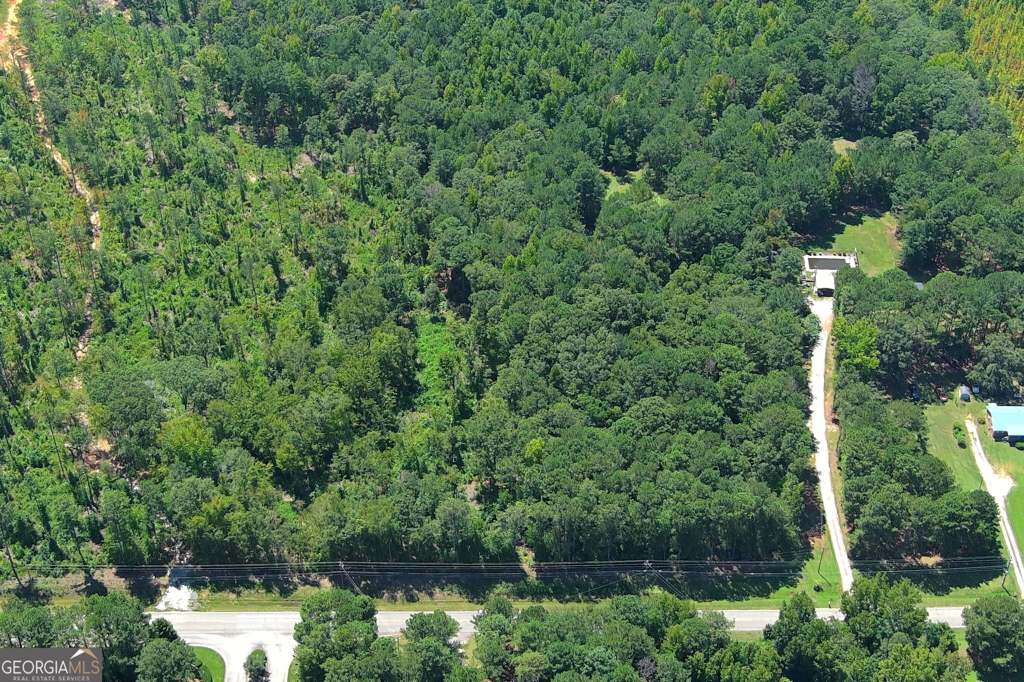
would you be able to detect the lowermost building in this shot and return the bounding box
[986,407,1024,449]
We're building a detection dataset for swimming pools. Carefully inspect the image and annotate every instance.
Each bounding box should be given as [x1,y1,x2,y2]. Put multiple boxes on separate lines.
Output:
[804,255,856,272]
